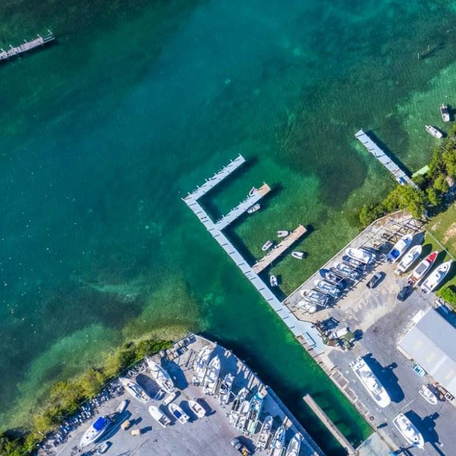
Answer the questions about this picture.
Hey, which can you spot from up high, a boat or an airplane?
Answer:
boat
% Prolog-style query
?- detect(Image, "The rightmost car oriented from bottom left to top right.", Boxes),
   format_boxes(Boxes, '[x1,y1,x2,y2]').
[396,286,415,304]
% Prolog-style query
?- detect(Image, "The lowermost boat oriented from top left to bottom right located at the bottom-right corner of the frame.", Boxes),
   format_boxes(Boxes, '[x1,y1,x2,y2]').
[391,413,424,448]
